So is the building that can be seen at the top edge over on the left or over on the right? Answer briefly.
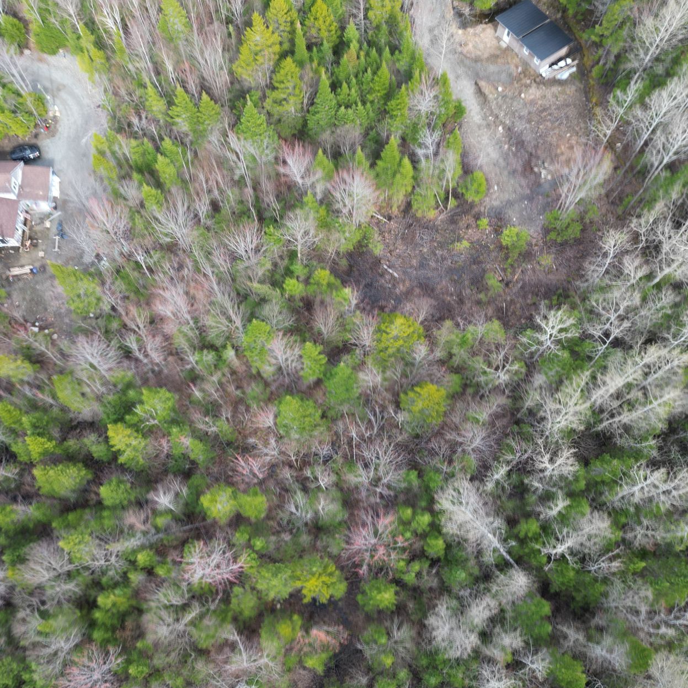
right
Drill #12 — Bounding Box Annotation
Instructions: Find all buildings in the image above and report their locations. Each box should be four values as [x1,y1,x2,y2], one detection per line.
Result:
[495,0,574,74]
[0,162,55,247]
